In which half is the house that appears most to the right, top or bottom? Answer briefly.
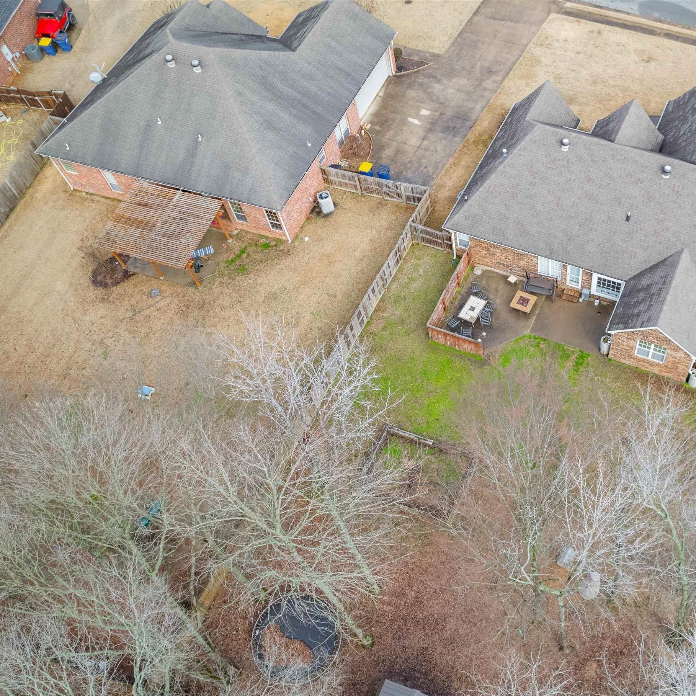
top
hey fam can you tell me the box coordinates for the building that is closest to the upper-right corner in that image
[443,79,696,380]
